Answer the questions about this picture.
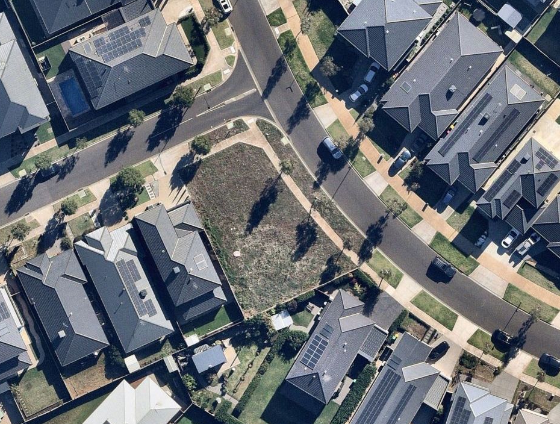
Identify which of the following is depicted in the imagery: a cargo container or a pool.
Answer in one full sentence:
Of the two, only a pool appears.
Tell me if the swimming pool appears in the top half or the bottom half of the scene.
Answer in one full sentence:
The top half of the photo is where the swimming pool is.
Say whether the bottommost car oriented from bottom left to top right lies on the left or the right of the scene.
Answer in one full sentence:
You can find the bottommost car oriented from bottom left to top right on the right side of the picture.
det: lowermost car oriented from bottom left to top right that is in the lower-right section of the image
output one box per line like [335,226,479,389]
[429,337,452,365]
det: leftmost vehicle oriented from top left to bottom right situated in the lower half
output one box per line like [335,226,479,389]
[428,256,457,279]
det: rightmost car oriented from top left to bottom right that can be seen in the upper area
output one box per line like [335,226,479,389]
[321,132,345,163]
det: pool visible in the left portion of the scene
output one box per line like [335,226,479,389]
[59,75,90,113]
